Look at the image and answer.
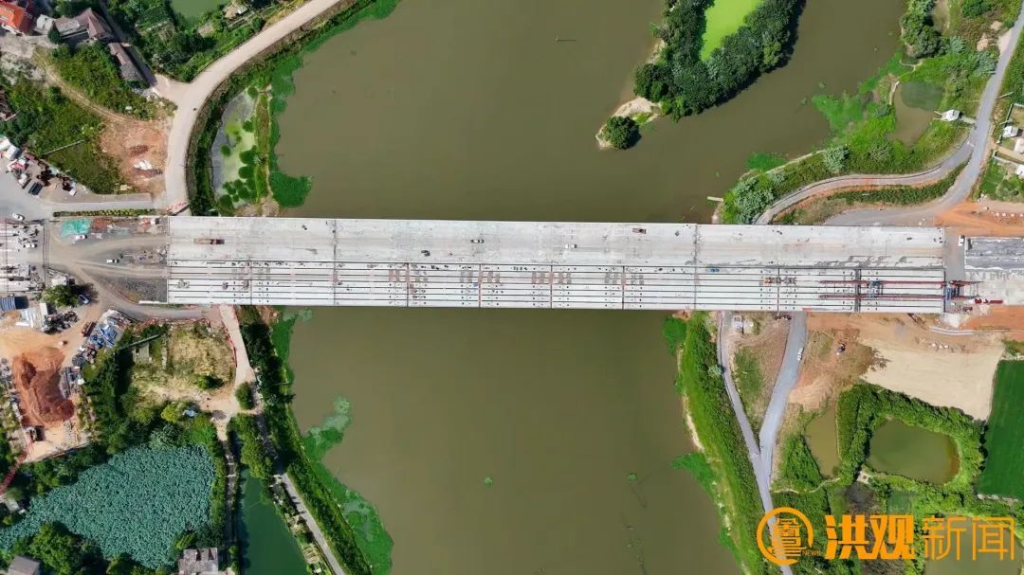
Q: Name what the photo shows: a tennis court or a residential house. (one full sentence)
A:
Looking from above, you can make out a residential house.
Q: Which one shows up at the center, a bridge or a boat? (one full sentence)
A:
There is a bridge at the center.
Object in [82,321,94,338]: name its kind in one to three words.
vehicle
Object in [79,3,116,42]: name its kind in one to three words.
house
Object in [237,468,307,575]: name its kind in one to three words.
pond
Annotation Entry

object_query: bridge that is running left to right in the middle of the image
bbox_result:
[164,216,948,314]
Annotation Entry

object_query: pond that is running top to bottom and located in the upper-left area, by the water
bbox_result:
[212,89,258,207]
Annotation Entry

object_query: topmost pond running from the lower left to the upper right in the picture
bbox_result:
[702,0,760,59]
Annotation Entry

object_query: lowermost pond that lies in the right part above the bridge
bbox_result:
[890,77,944,145]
